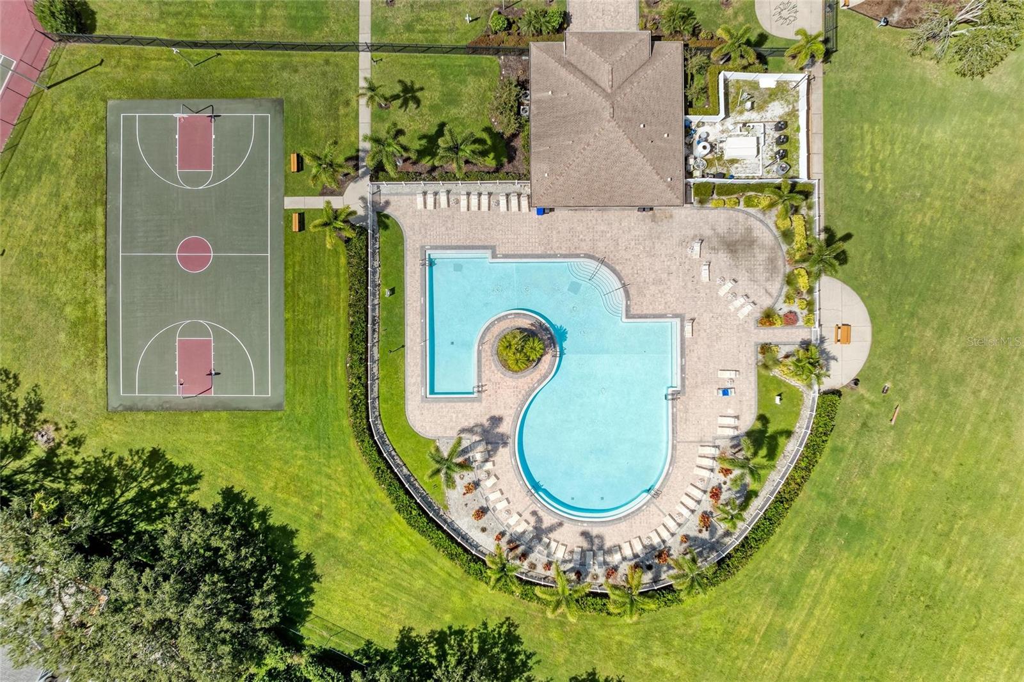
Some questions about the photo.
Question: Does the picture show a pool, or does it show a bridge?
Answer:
pool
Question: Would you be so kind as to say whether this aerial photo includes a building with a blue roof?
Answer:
No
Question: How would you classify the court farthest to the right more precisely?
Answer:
basketball court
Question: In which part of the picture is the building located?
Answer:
top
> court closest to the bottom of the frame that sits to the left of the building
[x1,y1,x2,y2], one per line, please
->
[107,98,284,411]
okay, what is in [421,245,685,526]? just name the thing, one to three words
swimming pool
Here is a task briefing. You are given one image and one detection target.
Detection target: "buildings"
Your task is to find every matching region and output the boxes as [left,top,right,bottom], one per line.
[530,30,684,207]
